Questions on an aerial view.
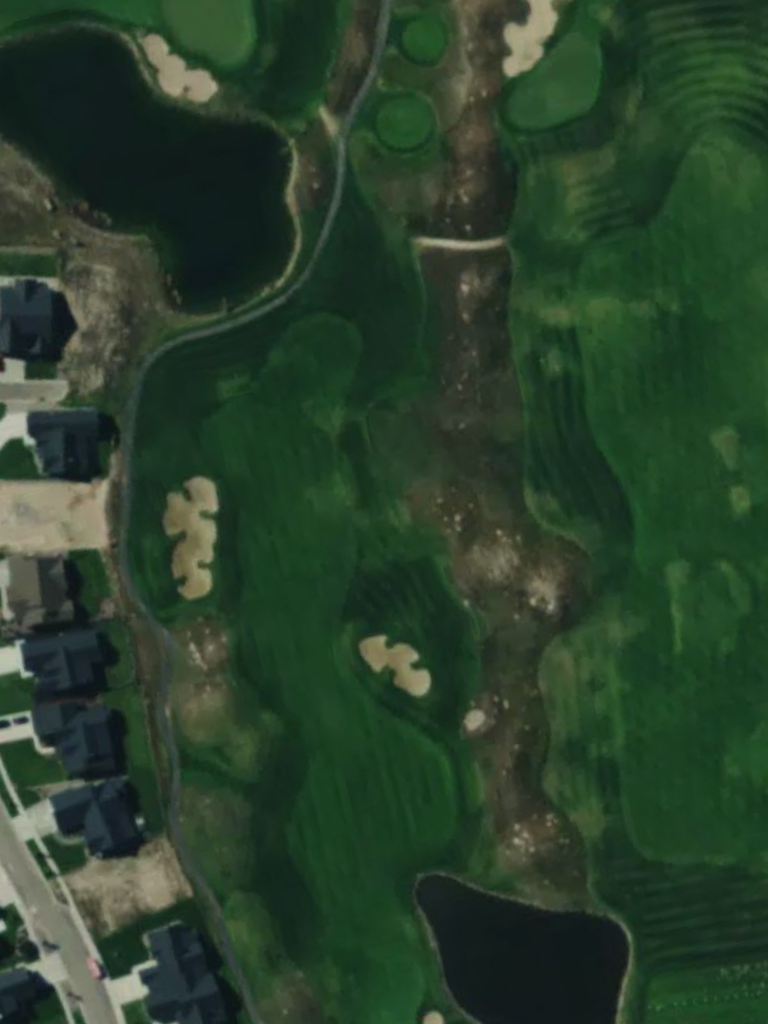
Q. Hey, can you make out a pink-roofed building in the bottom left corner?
No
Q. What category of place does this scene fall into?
golf course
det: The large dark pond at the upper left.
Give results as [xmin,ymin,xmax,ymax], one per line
[0,26,296,313]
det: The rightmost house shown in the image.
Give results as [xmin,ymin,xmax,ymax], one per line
[137,921,224,1024]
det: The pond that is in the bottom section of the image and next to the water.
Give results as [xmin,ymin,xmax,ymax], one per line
[416,874,630,1024]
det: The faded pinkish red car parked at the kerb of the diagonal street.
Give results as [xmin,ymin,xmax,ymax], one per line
[86,956,102,978]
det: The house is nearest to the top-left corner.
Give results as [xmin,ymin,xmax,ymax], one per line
[0,278,56,359]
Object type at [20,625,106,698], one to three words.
house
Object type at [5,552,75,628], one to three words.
house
